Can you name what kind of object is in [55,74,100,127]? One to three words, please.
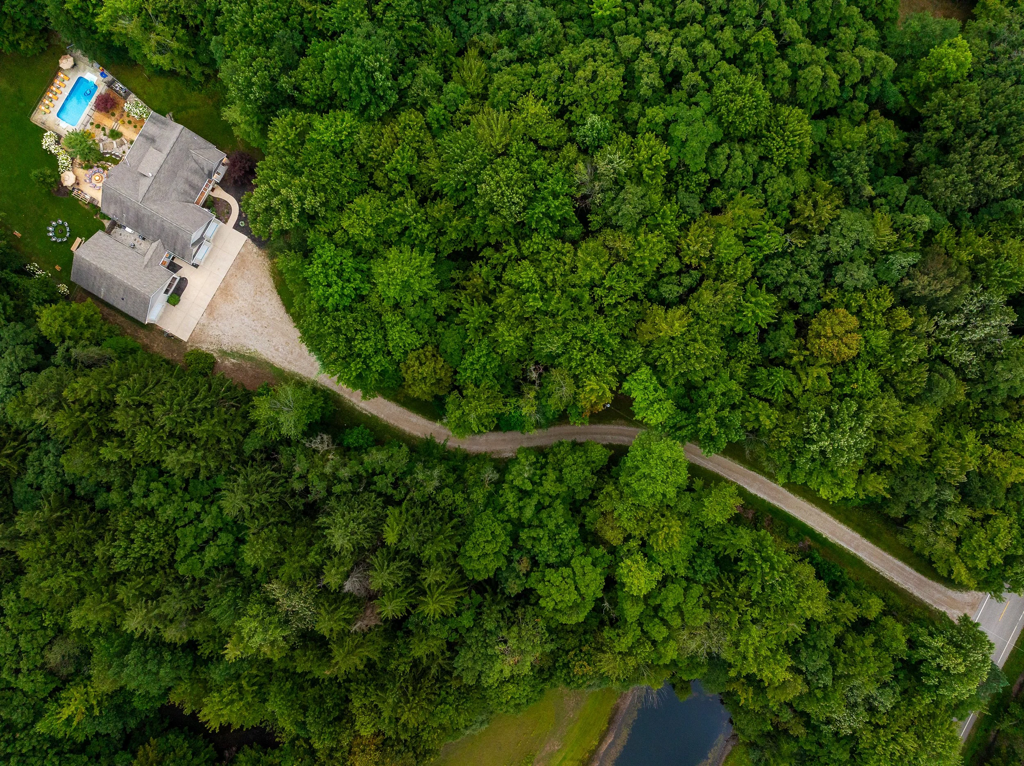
swimming pool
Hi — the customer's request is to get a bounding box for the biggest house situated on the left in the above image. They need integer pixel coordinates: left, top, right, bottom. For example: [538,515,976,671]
[71,110,231,324]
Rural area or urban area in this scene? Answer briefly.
rural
